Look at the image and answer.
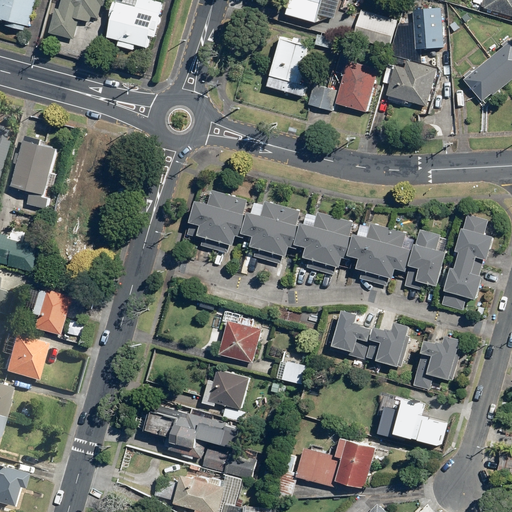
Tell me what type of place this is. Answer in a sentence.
The area seen from above is a residential area.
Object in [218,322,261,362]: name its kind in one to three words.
house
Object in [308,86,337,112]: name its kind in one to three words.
building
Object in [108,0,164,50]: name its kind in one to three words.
house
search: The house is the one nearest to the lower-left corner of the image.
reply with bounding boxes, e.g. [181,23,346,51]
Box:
[0,462,32,508]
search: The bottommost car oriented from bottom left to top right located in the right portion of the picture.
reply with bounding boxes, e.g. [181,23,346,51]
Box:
[440,458,456,472]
